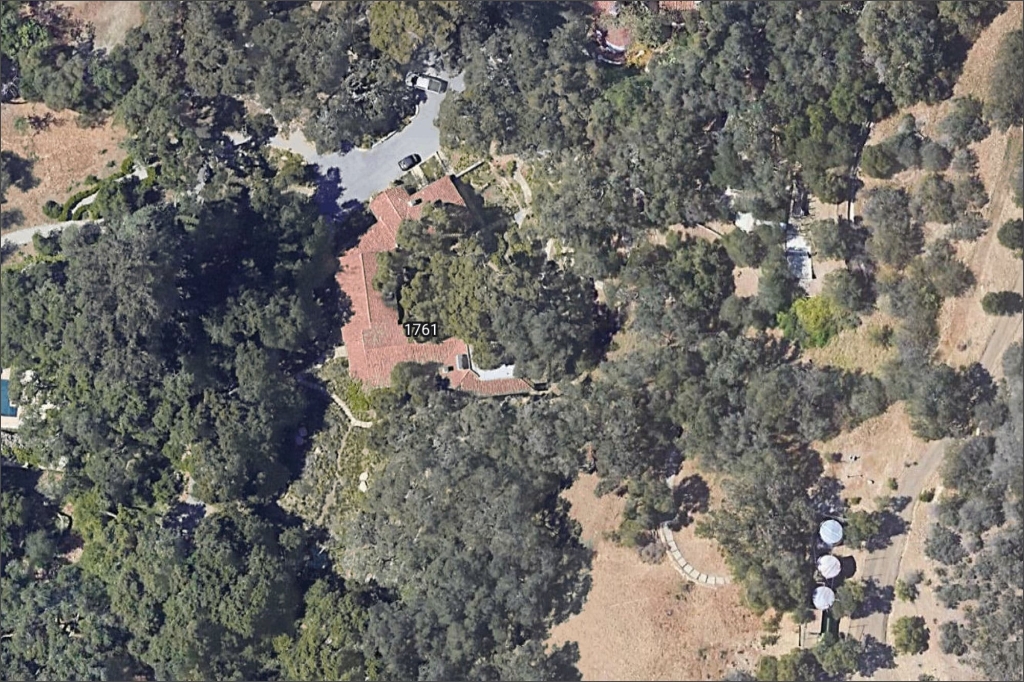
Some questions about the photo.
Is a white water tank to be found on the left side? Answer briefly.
No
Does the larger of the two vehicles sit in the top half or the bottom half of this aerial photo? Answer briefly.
top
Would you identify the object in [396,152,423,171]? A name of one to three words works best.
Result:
car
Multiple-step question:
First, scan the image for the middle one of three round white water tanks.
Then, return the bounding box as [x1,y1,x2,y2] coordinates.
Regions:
[815,555,841,580]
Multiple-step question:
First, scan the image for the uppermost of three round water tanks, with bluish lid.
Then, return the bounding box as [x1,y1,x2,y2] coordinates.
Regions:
[817,520,843,545]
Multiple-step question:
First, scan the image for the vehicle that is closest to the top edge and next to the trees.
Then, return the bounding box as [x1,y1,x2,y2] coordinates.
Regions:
[404,74,443,94]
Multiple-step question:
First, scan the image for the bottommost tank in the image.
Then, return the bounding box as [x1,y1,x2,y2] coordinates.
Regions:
[810,585,835,609]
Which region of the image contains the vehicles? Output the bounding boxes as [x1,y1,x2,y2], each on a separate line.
[404,74,443,94]
[396,152,423,171]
